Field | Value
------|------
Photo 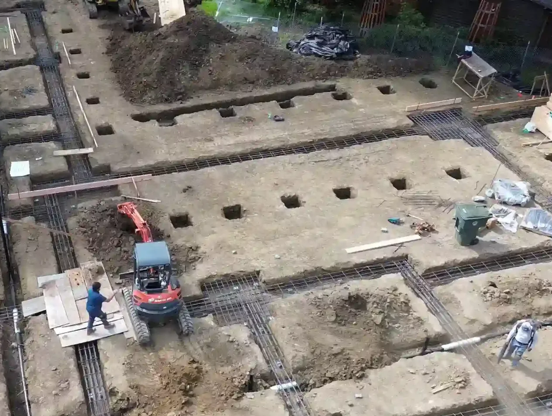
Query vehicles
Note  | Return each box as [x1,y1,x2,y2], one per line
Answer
[117,199,195,340]
[83,0,147,37]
